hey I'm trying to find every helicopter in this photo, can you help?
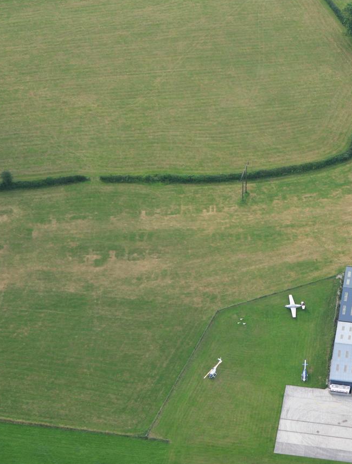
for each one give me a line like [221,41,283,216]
[301,359,308,382]
[208,358,222,380]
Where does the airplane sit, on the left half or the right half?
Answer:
right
